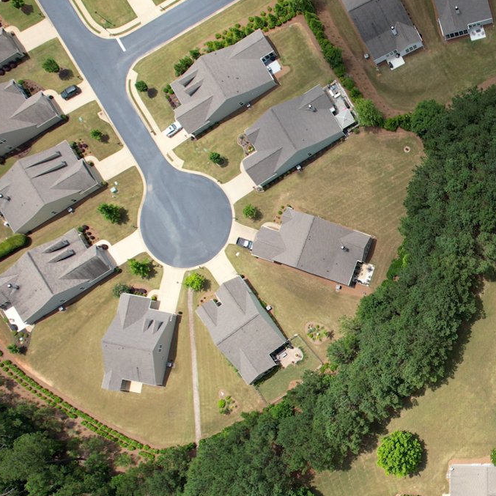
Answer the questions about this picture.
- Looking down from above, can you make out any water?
No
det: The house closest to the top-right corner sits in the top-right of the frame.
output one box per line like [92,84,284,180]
[435,0,493,39]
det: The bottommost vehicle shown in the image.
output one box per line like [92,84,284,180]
[230,235,251,250]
